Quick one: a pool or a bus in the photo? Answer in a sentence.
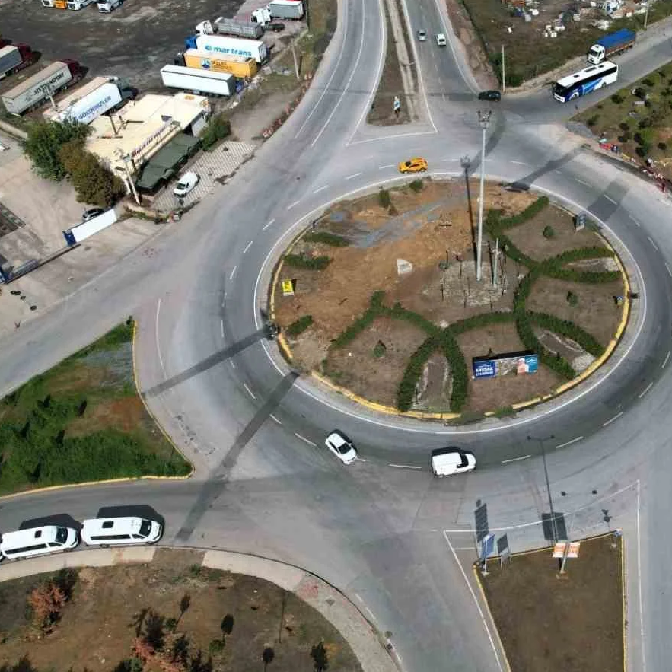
It is a bus that can be seen here.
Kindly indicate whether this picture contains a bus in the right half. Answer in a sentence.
Yes, a bus shows up in the right half.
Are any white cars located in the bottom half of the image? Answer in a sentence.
Yes, a white car shows up in the bottom half of the image.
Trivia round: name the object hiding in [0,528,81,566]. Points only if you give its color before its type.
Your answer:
white vehicle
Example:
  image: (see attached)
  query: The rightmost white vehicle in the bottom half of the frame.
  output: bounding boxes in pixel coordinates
[432,453,476,479]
